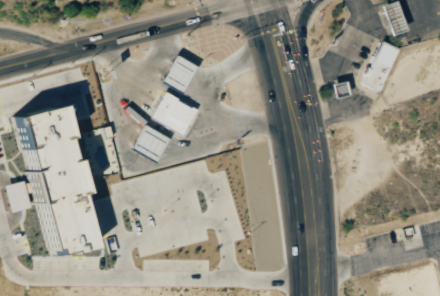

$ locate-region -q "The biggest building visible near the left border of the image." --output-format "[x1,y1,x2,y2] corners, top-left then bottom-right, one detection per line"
[14,106,104,254]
